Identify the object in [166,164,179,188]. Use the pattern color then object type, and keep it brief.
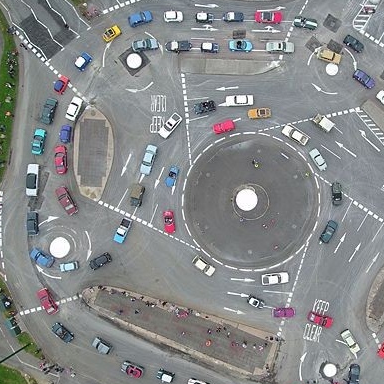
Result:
blue vehicle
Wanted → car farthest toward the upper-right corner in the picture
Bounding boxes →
[340,33,366,54]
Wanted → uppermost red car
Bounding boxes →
[254,10,282,24]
